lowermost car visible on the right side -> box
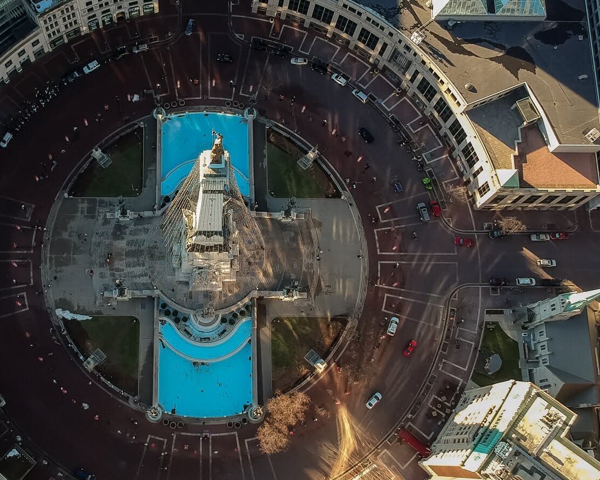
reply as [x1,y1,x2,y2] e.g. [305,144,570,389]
[366,392,381,409]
